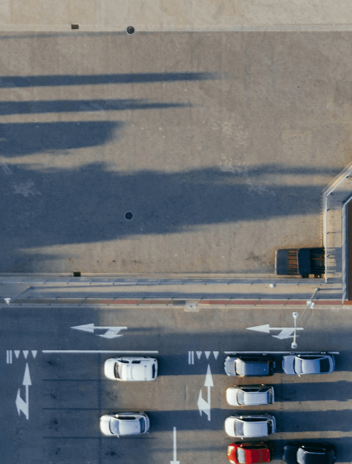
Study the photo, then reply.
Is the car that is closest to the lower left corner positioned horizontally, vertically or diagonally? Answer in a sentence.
The car that is closest to the lower left corner runs horizontally in the image.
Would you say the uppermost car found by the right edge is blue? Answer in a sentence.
Yes, the uppermost car found by the right edge is blue.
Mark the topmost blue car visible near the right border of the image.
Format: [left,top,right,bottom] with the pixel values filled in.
[283,351,336,378]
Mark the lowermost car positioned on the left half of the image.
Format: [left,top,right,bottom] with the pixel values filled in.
[100,410,153,438]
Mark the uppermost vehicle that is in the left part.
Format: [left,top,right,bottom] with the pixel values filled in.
[105,356,159,385]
